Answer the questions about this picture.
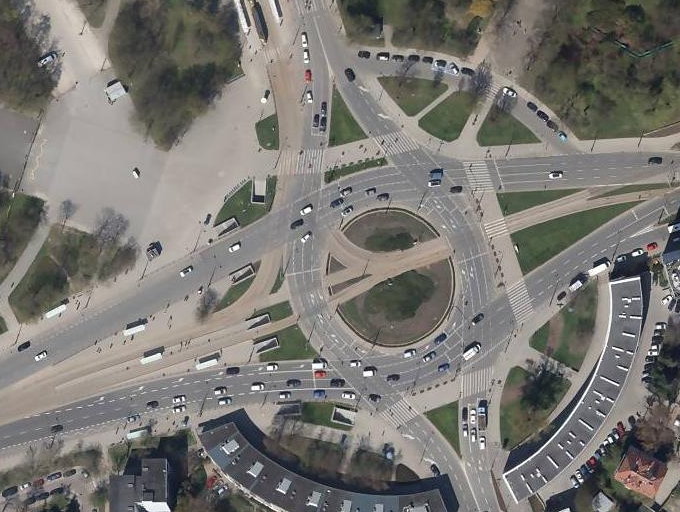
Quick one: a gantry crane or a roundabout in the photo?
roundabout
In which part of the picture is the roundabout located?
center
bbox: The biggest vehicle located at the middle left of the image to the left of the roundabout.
[148,242,161,258]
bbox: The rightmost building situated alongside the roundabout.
[504,277,643,504]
